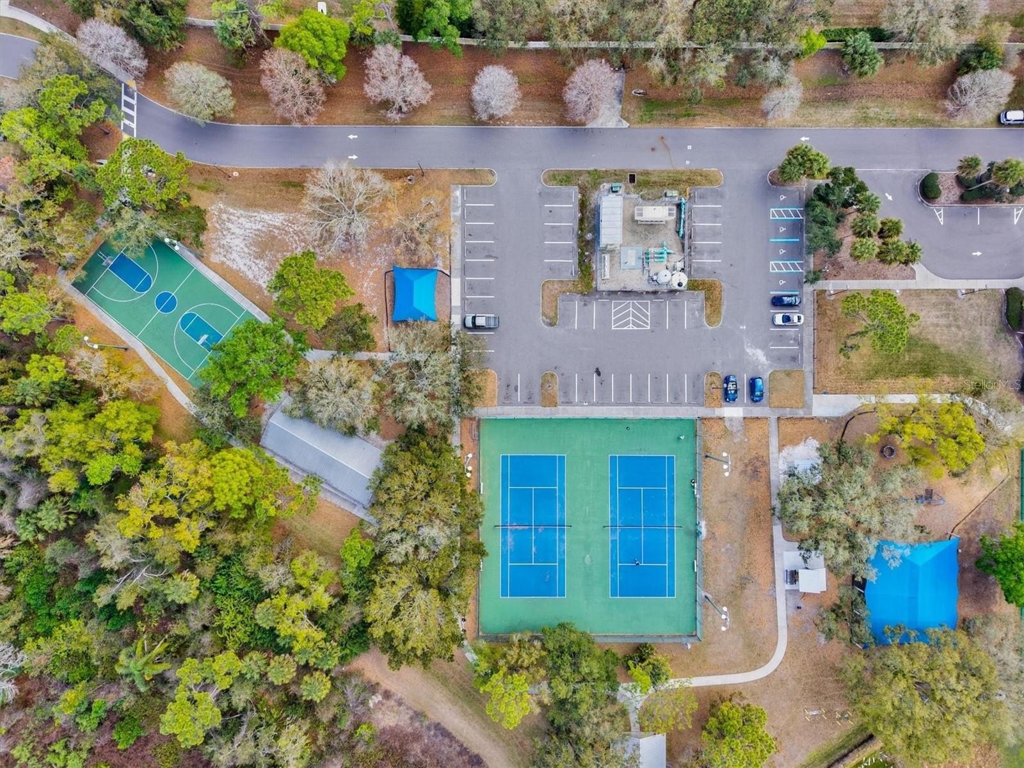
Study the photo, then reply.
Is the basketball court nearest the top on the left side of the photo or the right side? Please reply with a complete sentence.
The basketball court nearest the top sits on the left side.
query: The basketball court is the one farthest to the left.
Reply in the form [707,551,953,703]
[71,213,261,392]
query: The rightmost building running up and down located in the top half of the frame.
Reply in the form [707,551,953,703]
[599,195,622,254]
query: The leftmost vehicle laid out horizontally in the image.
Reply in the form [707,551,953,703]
[464,315,499,330]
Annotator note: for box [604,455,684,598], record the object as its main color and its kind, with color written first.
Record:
blue tennis court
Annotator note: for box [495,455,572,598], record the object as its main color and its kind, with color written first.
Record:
blue tennis court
